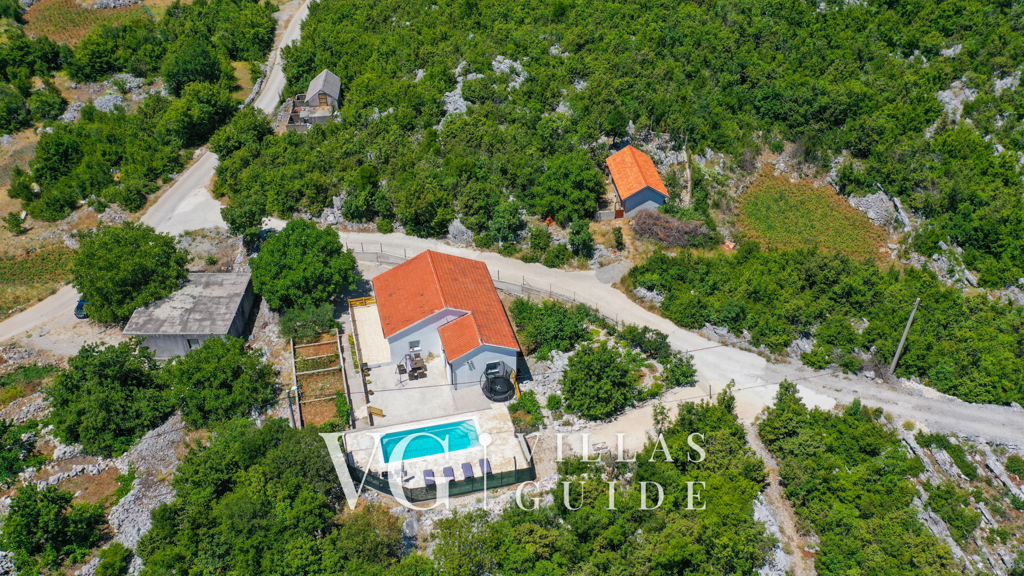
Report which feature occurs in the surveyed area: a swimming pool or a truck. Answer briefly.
swimming pool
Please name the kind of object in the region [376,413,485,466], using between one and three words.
swimming pool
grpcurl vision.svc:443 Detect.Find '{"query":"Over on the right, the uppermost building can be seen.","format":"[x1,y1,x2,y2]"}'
[602,144,670,219]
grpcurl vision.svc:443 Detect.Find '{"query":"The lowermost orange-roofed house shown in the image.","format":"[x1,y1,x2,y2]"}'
[374,250,521,389]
